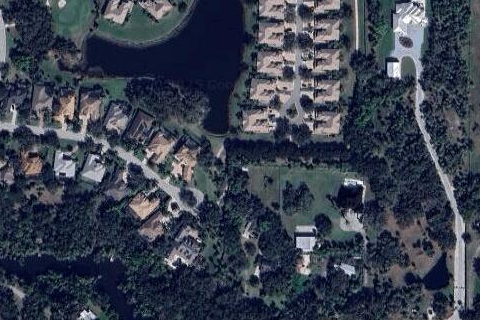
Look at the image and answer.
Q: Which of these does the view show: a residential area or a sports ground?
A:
residential area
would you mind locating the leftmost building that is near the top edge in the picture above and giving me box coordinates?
[101,0,133,24]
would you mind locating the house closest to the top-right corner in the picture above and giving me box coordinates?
[392,2,429,34]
